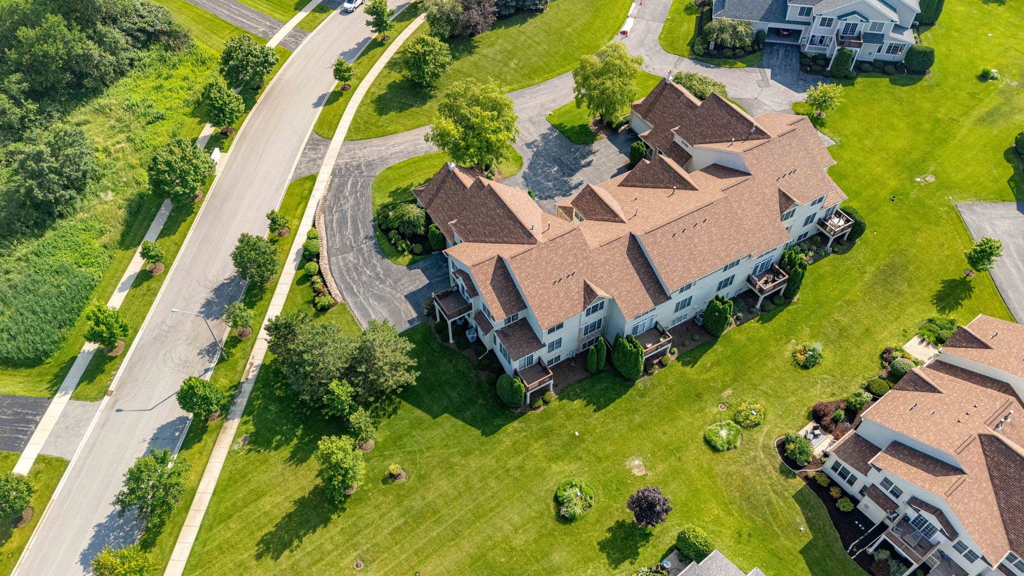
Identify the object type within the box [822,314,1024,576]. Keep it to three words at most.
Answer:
house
